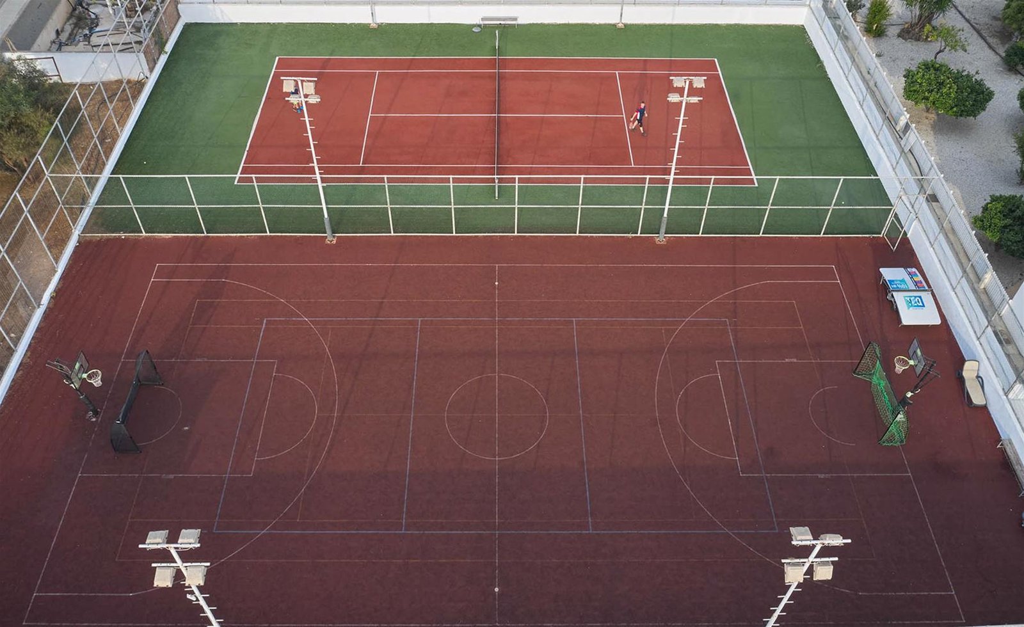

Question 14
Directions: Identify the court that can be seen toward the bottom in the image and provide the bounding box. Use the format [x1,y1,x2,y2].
[0,234,1024,627]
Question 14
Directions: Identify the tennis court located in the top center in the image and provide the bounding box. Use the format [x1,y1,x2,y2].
[80,22,907,237]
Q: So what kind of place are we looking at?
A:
sports ground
